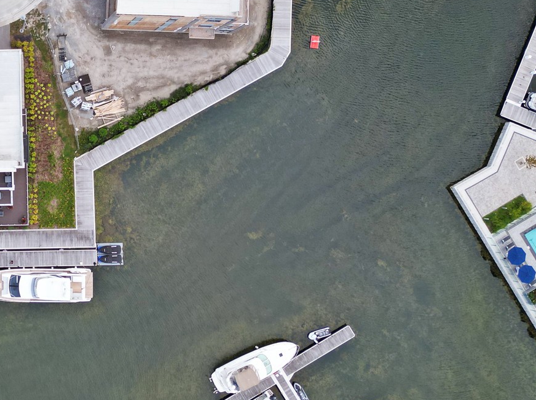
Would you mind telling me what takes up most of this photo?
water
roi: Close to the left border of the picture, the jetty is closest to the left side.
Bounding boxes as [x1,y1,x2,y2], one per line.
[0,249,98,267]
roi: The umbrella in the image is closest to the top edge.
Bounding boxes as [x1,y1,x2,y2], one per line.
[504,247,526,265]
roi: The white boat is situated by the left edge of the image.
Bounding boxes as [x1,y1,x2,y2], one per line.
[0,265,92,301]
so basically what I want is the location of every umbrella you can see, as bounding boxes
[504,247,526,265]
[515,265,535,284]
